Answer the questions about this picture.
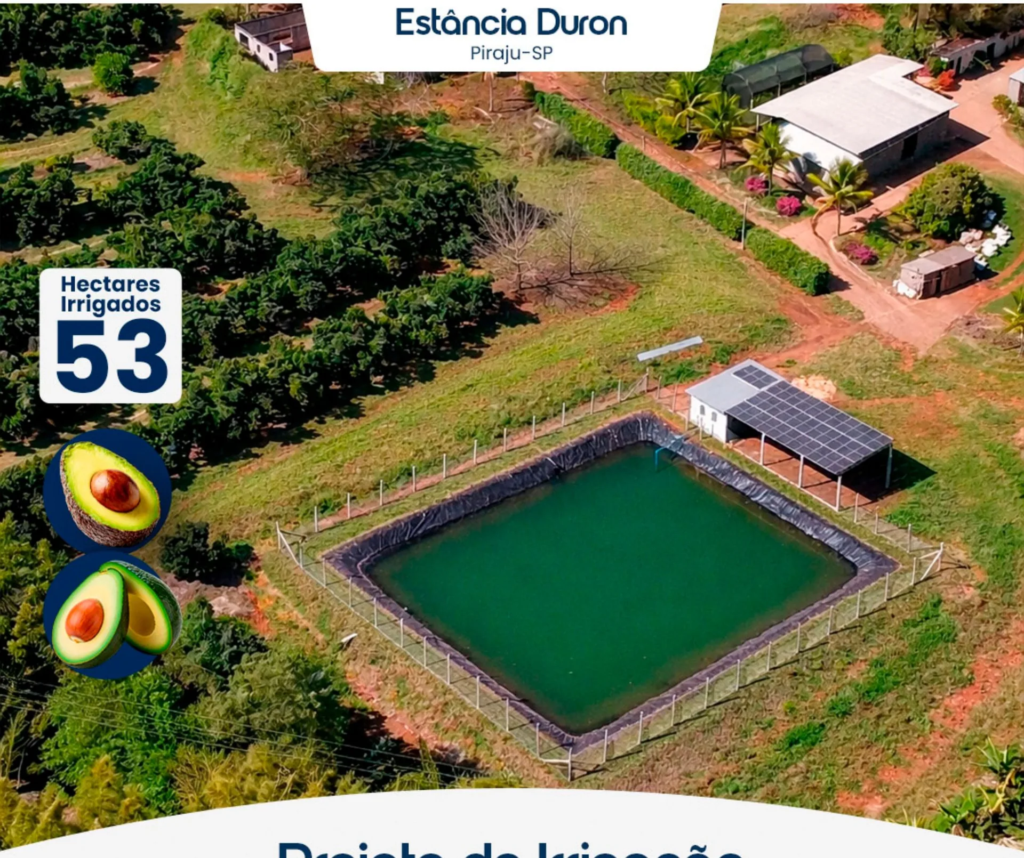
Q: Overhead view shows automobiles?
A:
No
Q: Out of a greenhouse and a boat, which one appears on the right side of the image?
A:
greenhouse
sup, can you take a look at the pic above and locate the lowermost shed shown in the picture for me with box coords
[685,355,900,511]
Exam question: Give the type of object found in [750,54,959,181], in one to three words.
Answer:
house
